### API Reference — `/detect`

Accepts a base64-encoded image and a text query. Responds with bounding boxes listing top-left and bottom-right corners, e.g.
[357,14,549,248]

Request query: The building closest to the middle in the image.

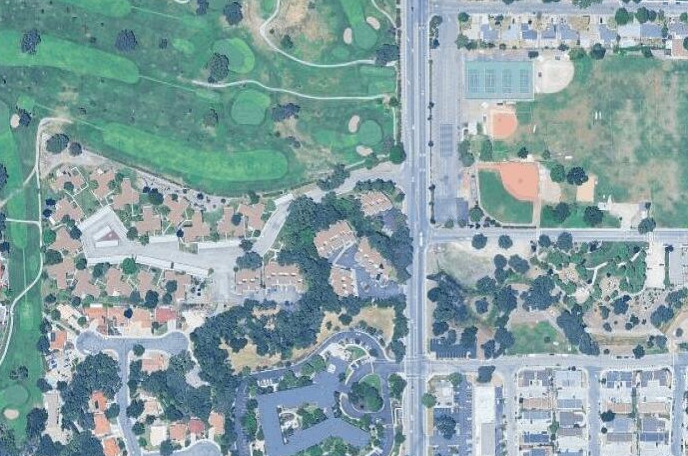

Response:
[314,220,357,254]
